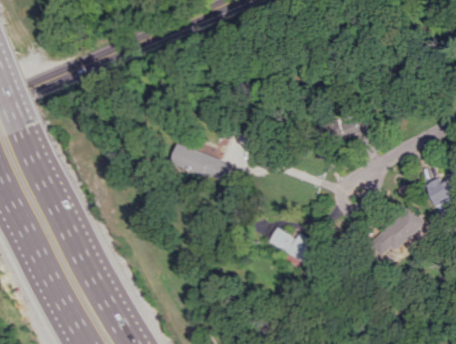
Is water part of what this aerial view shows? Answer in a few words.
No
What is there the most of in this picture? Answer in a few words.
trees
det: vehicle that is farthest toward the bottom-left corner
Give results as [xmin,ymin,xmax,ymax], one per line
[116,314,136,344]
